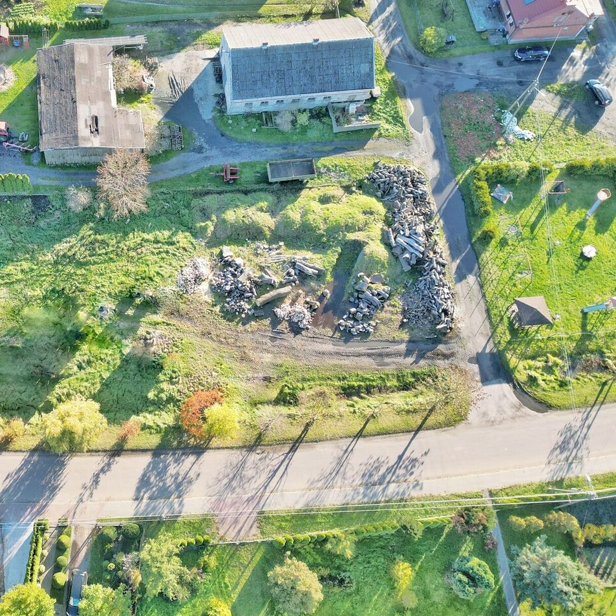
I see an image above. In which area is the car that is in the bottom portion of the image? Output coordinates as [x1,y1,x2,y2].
[65,571,87,616]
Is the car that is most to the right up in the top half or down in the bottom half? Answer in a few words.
top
